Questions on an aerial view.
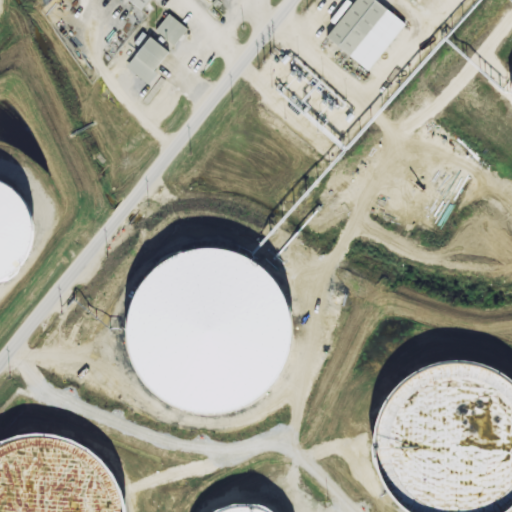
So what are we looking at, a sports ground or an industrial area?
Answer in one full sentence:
It's an industrial area.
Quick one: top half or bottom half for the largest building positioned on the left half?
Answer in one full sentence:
You can find the largest building positioned on the left half in the top half.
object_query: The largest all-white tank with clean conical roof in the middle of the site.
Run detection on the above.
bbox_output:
[127,246,292,416]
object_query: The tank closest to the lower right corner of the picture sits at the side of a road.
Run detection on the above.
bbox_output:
[371,360,512,512]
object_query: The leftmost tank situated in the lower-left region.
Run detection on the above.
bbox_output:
[0,432,125,512]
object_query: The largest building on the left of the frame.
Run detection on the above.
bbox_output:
[126,35,169,79]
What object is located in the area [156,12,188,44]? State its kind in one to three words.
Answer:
building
